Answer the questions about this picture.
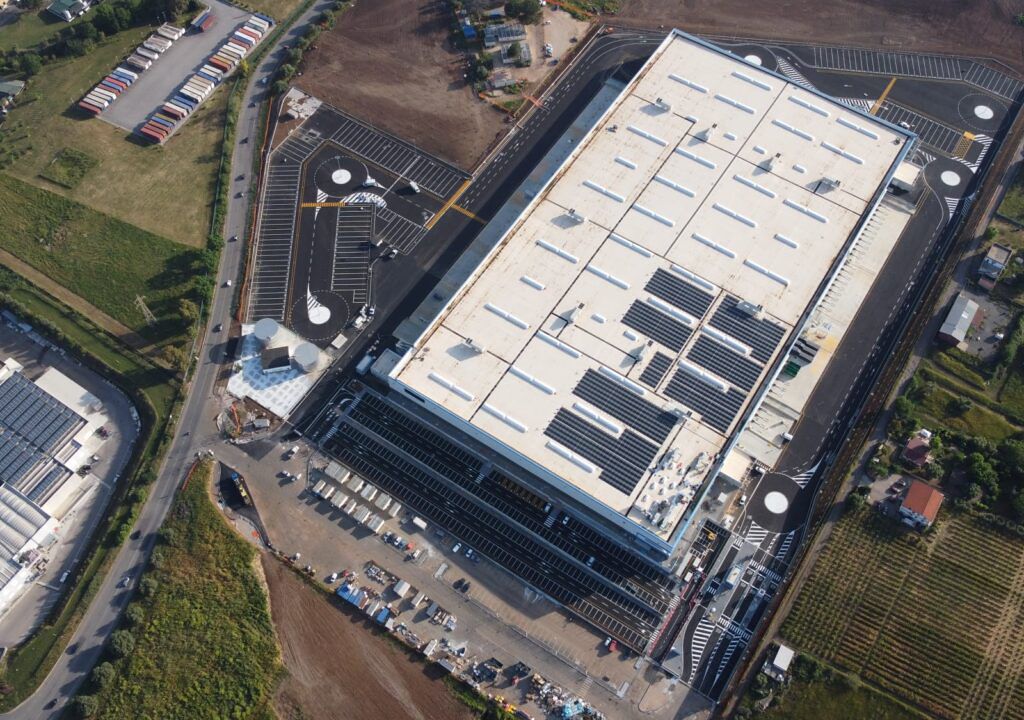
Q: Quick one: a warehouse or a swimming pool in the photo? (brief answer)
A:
warehouse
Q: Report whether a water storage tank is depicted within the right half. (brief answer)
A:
No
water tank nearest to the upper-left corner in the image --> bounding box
[253,317,284,348]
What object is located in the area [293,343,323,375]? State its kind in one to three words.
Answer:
water tank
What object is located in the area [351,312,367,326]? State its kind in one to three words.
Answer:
vehicle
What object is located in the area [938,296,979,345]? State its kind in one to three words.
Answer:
shed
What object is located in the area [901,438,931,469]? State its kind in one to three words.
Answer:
house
